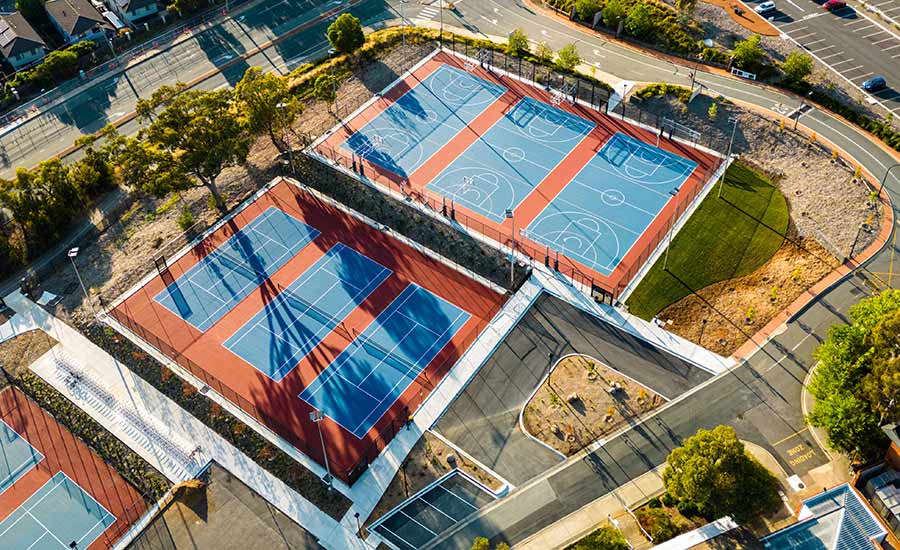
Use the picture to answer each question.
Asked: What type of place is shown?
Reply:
sports ground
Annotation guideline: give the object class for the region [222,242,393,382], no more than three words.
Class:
tennis court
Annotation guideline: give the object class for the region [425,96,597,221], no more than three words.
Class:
basketball court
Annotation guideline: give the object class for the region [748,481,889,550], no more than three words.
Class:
building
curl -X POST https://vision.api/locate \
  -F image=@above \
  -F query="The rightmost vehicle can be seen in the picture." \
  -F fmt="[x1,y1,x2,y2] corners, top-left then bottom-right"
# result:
[863,76,887,92]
